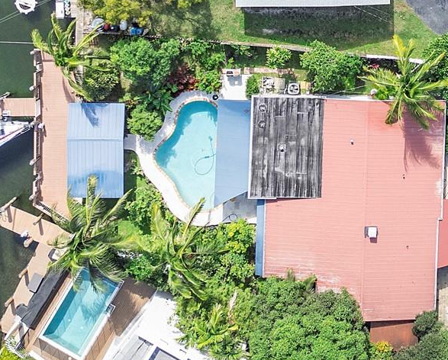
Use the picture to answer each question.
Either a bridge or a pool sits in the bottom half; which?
pool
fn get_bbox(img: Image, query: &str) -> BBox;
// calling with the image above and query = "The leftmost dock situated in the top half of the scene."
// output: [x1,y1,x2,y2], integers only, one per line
[0,97,35,117]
